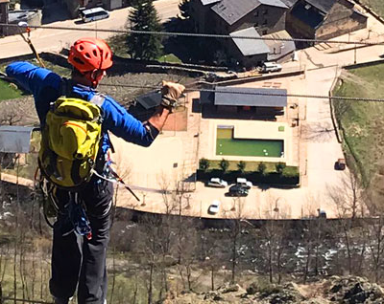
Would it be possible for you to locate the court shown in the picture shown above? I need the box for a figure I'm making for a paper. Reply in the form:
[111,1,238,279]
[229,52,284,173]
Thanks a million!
[166,102,189,131]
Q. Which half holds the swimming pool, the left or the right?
right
